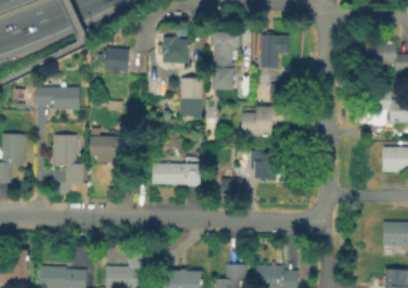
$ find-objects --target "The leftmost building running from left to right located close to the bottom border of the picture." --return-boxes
[40,266,86,288]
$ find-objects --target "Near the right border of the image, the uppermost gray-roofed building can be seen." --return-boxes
[378,42,408,74]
